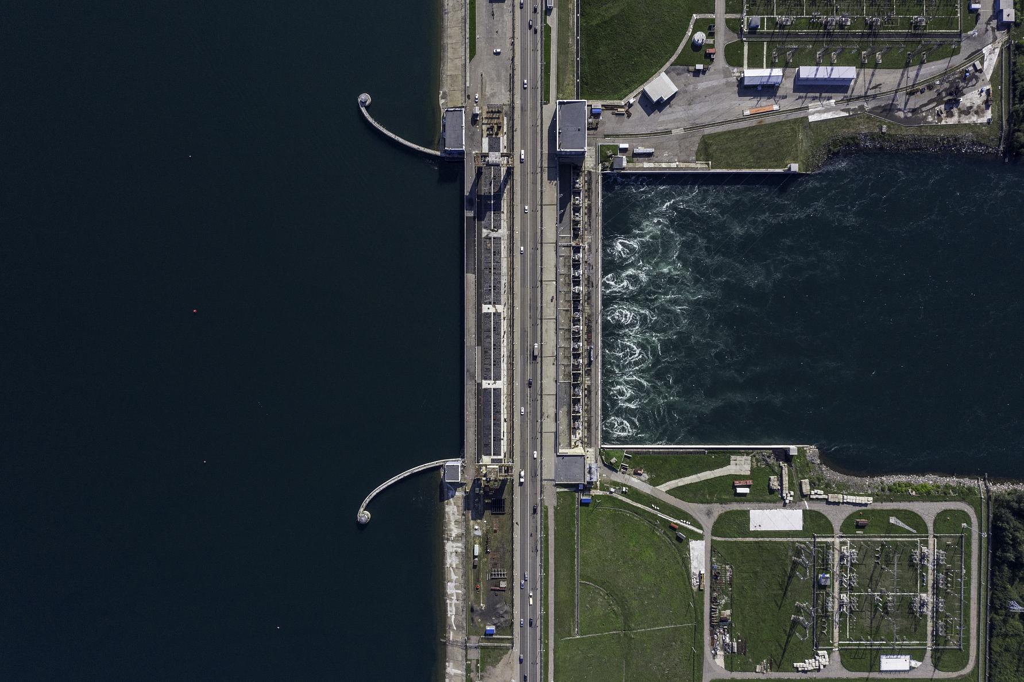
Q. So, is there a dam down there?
Yes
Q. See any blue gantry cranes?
No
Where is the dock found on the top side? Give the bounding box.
[358,93,444,157]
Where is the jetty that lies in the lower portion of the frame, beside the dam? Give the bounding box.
[358,458,461,524]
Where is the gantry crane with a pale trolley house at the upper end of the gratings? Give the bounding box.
[476,151,513,176]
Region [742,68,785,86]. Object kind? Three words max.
shed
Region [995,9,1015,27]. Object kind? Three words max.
building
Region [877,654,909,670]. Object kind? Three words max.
house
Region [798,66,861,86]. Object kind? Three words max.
shed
